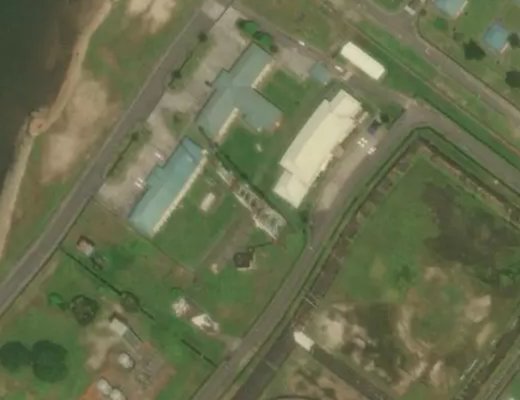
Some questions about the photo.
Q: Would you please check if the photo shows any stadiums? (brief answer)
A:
No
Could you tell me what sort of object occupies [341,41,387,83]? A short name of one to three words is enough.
shed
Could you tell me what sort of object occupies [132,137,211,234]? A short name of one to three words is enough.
building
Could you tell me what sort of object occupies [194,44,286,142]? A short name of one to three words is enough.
building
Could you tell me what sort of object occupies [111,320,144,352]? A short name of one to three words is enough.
house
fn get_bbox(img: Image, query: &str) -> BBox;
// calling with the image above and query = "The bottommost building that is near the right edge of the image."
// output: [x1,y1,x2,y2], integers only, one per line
[484,25,509,51]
